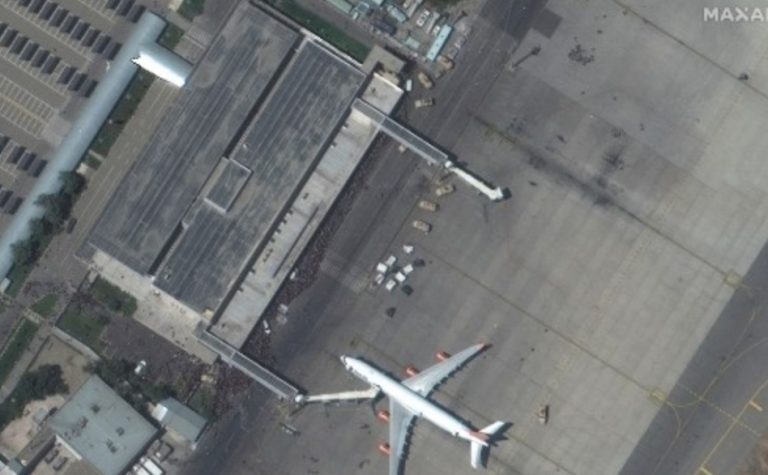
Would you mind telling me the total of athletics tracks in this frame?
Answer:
0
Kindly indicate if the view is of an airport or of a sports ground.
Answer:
airport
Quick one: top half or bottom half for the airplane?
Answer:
bottom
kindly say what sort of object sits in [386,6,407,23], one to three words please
vehicle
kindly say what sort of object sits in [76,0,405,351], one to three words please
building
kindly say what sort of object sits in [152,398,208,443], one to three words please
shed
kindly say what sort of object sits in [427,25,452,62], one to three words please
bus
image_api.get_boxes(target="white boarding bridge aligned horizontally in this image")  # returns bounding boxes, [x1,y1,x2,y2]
[294,386,382,407]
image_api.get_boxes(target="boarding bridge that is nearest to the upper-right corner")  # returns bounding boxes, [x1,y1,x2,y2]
[443,160,503,201]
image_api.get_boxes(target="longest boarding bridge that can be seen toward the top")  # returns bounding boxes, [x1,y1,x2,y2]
[353,101,446,169]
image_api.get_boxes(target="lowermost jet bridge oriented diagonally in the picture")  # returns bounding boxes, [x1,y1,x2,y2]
[196,326,294,401]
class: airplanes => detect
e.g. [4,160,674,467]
[340,345,504,475]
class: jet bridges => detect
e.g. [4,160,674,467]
[443,160,503,201]
[353,101,446,169]
[294,386,382,407]
[196,326,294,401]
